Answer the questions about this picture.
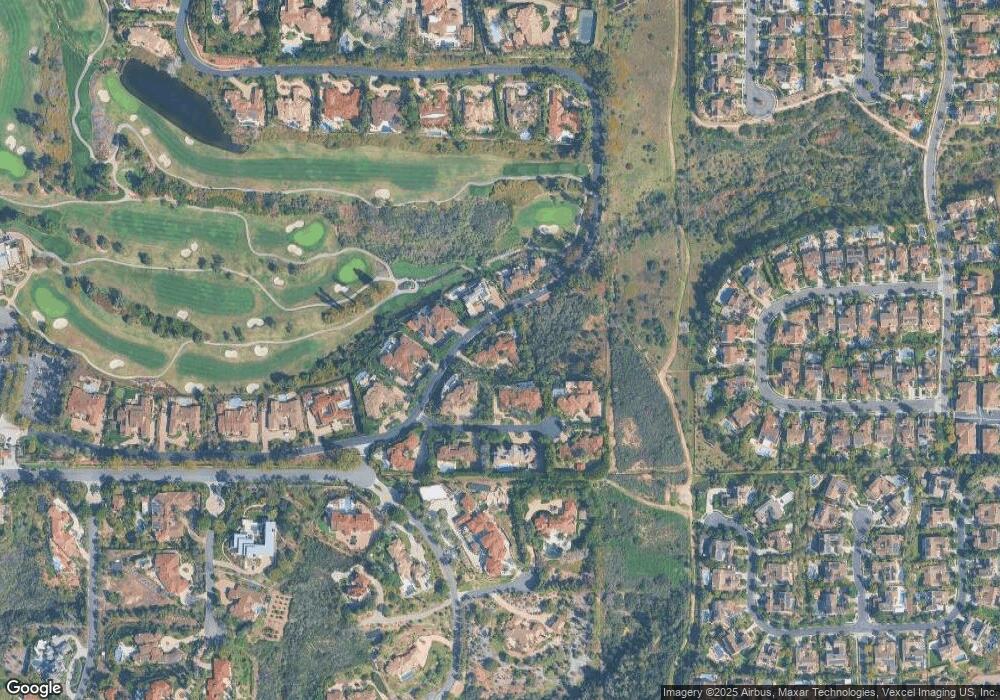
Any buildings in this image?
Yes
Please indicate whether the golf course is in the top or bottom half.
top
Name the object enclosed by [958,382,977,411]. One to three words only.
building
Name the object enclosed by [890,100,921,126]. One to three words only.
house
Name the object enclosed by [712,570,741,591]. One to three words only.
house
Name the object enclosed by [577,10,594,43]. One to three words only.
tennis court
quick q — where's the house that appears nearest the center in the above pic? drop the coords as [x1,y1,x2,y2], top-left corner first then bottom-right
[472,333,520,369]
